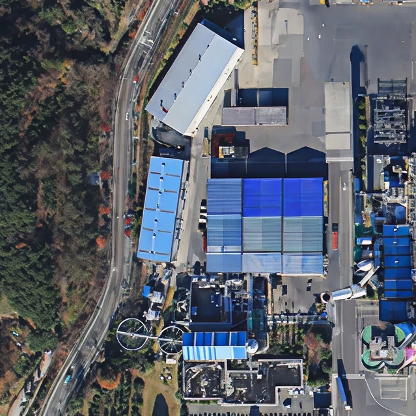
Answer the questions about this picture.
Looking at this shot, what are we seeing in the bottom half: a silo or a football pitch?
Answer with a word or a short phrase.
silo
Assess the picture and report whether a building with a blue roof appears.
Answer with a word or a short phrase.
Yes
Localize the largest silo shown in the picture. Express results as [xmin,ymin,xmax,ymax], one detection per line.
[362,327,406,371]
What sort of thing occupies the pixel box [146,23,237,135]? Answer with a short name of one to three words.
building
